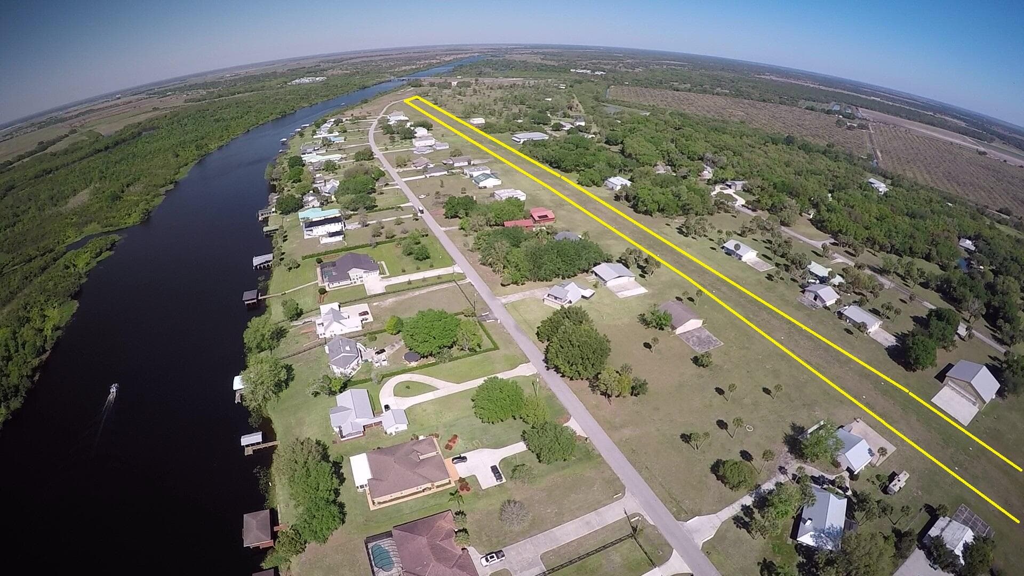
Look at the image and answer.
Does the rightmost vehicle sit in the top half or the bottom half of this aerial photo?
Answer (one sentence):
You can find the rightmost vehicle in the bottom half.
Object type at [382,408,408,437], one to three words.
building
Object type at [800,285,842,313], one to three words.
hangar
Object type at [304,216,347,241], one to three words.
house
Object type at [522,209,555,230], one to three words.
barn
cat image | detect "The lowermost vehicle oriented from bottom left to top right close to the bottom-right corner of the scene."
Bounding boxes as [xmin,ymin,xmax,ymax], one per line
[888,471,908,497]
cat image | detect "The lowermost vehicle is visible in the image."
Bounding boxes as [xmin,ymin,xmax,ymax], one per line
[479,550,507,565]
